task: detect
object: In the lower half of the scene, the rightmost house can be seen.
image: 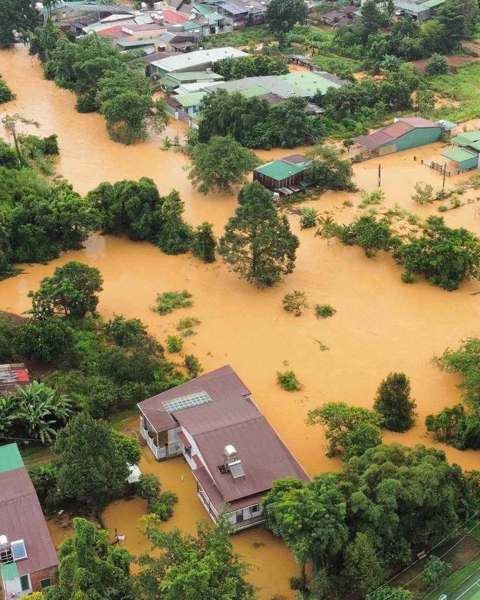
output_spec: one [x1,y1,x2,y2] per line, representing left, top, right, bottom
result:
[139,365,313,526]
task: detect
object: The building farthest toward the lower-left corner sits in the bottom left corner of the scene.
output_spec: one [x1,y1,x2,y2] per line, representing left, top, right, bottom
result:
[0,444,65,600]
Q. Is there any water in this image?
Yes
